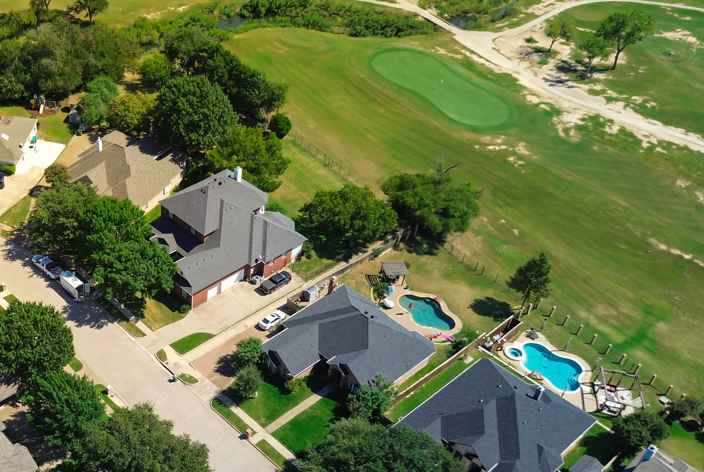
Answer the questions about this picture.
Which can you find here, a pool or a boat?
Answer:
pool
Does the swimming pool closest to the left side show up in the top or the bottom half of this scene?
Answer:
bottom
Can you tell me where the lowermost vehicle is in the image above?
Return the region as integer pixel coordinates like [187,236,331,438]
[258,311,286,328]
